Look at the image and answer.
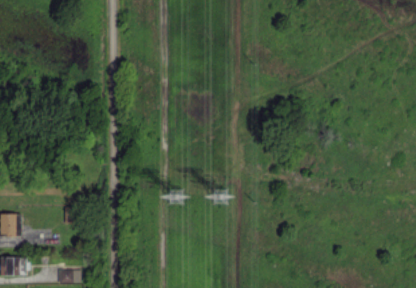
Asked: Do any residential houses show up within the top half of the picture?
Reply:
No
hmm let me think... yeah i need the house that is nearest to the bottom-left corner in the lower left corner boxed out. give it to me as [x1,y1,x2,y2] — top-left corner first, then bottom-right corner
[0,257,32,276]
